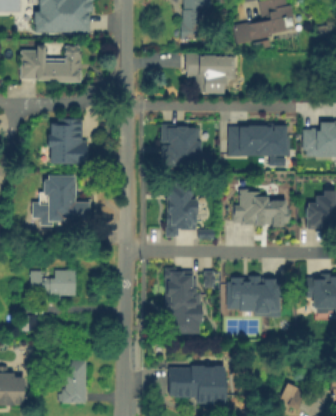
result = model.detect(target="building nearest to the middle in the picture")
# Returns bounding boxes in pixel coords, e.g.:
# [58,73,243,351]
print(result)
[166,187,198,238]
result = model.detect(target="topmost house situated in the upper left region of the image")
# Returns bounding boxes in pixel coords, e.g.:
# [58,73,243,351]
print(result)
[34,0,93,33]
